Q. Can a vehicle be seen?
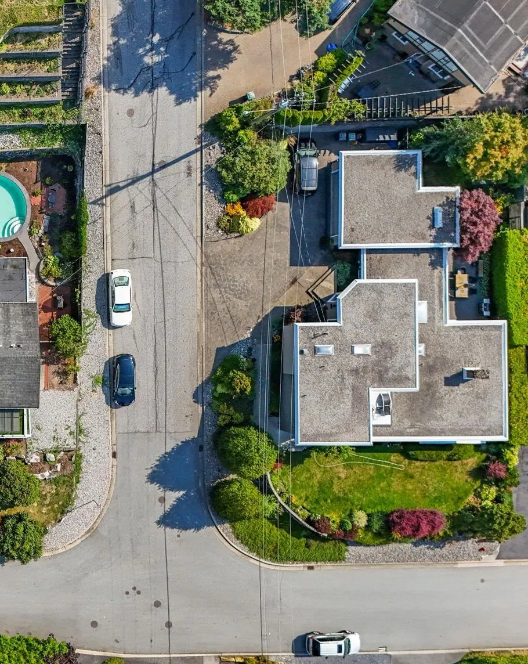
Yes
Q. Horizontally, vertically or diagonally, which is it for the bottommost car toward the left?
vertically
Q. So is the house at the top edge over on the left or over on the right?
right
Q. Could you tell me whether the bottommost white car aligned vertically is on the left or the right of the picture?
left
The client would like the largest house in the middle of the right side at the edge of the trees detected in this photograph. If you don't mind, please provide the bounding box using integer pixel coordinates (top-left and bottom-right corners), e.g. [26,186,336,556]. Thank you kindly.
[272,151,507,447]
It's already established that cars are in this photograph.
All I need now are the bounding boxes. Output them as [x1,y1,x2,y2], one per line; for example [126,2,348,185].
[304,627,361,657]
[312,0,361,38]
[110,354,137,407]
[108,268,135,329]
[289,138,321,199]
